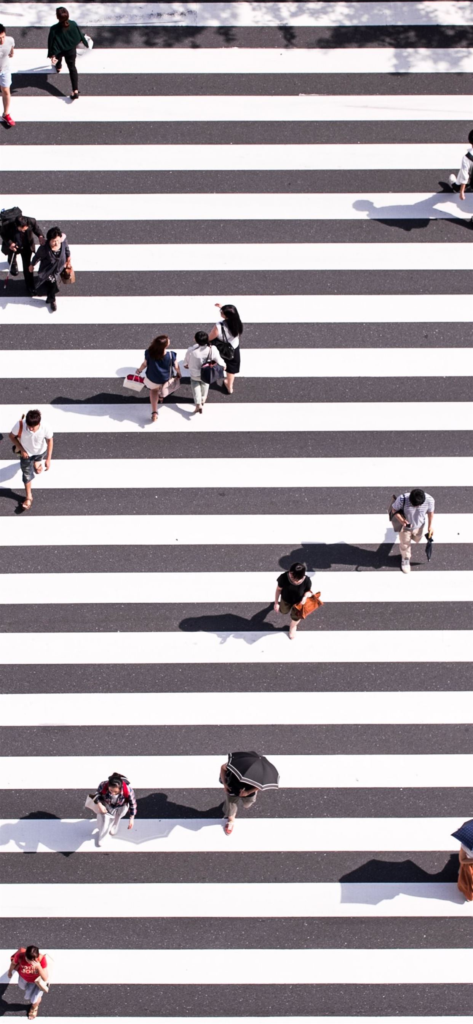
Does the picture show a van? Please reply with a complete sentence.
No, there is no van in the image.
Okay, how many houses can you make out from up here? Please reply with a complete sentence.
The photo contains no houses.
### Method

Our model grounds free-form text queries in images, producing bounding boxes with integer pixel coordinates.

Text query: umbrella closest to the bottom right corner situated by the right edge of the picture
[451,819,473,850]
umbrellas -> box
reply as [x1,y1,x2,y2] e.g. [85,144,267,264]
[451,819,473,850]
[425,528,434,560]
[226,746,283,800]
